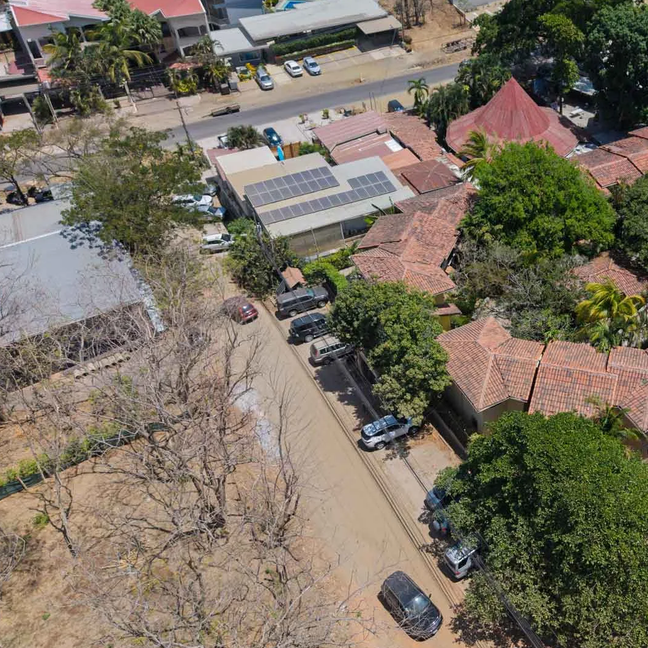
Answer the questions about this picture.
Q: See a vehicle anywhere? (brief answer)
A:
Yes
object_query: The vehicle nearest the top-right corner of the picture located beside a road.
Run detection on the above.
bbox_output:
[383,88,406,112]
